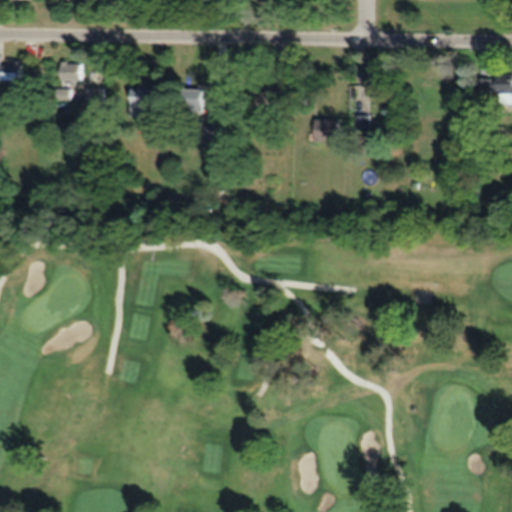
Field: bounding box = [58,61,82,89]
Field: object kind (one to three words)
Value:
house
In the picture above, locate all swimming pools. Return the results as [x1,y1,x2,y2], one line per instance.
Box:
[362,170,378,186]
